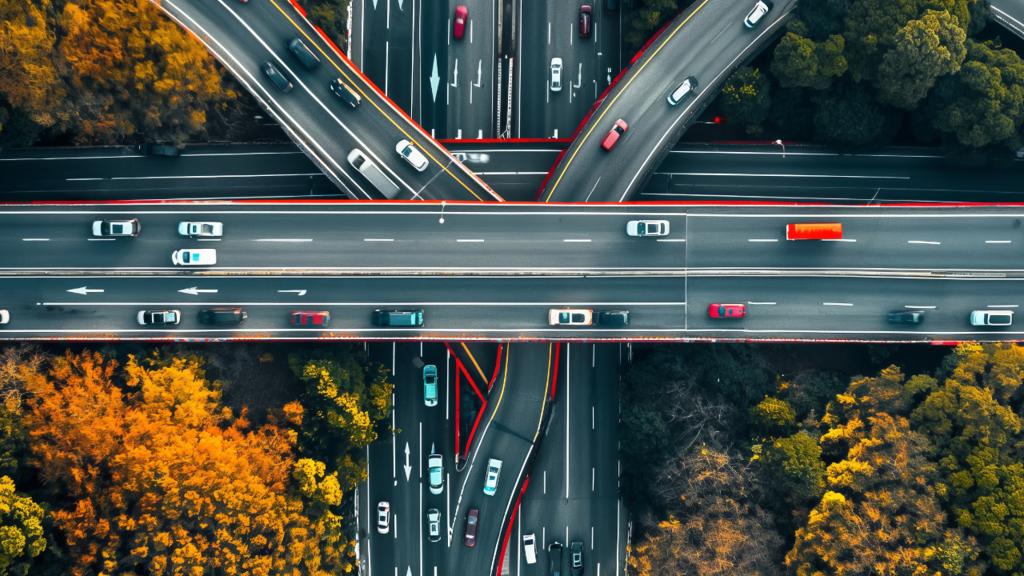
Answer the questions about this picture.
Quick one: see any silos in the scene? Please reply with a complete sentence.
No, no silo is visible in the scene.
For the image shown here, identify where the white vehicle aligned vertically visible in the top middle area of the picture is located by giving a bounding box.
[549,56,564,91]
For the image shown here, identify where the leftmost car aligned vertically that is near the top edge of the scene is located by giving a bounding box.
[452,4,467,39]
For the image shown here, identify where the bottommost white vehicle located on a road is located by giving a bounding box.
[522,534,537,567]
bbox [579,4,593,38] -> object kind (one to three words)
car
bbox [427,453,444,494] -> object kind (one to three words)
car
